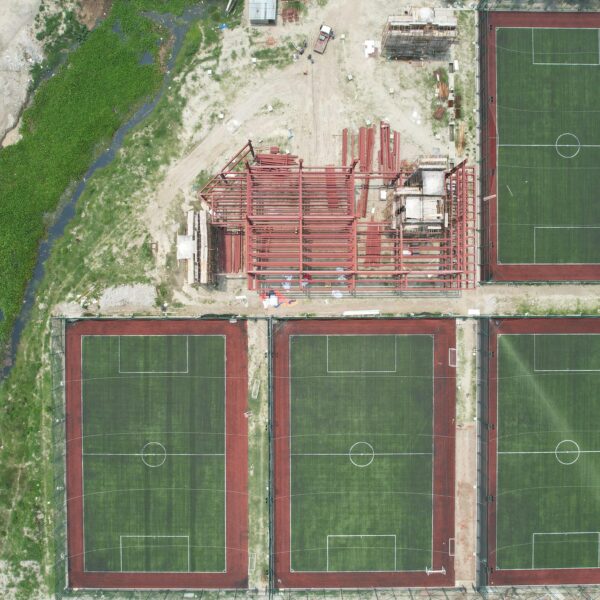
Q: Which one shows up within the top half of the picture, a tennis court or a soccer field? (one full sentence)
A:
What appears within the top half of the picture is a soccer field.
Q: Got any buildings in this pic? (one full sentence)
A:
Yes, a building is visible in the scene.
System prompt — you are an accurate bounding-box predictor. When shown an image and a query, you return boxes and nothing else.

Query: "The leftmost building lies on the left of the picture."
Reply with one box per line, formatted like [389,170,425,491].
[177,210,216,285]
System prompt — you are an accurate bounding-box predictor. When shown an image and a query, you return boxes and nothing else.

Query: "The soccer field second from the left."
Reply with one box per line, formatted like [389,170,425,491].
[272,318,456,588]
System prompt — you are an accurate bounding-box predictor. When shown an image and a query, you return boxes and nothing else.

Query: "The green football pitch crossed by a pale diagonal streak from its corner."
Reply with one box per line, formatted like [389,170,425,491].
[480,318,600,587]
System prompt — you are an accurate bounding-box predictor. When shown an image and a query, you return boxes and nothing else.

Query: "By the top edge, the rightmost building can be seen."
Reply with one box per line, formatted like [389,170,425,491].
[380,7,460,54]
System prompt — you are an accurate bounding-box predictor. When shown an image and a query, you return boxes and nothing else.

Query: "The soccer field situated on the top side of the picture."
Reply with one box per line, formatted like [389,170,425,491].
[480,11,600,282]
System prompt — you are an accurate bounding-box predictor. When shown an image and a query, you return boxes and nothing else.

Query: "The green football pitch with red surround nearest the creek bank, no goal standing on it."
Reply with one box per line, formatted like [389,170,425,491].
[66,319,250,589]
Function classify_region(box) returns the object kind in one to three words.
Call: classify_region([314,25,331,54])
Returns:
vehicle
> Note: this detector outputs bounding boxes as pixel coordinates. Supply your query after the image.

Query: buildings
[200,140,476,298]
[249,0,277,25]
[380,7,460,54]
